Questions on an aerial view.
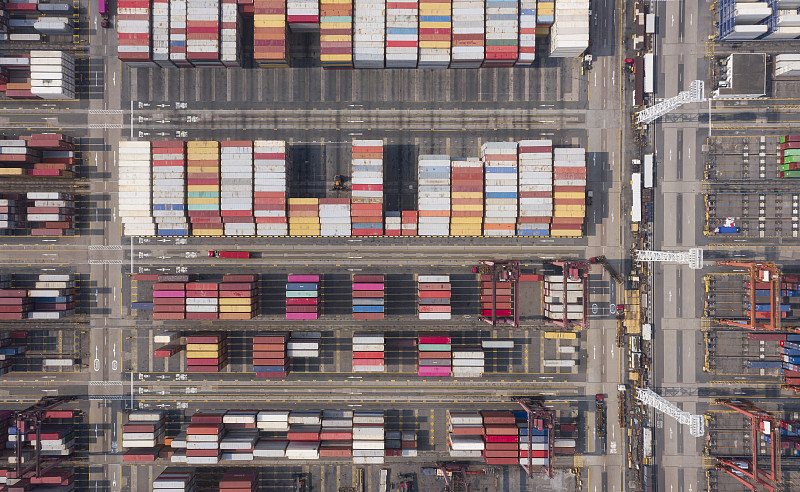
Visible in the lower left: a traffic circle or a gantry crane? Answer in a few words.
gantry crane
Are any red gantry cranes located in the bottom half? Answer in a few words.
Yes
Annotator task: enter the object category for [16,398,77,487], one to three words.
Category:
container crane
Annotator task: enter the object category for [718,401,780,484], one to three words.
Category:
container crane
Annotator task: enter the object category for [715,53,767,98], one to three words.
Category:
building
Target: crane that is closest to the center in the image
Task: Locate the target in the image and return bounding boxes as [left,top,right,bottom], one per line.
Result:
[479,259,523,330]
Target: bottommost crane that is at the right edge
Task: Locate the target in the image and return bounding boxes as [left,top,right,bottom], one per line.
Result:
[718,467,781,492]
